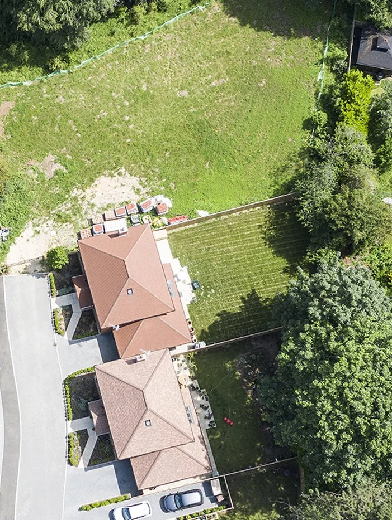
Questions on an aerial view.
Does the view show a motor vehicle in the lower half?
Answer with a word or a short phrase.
Yes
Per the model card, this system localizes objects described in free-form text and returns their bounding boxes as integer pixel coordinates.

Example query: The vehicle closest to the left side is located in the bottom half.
[111,499,153,520]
